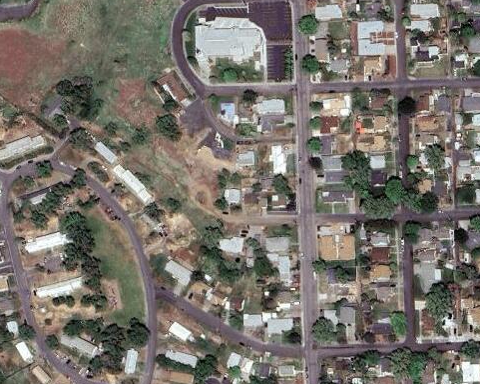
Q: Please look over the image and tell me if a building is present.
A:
Yes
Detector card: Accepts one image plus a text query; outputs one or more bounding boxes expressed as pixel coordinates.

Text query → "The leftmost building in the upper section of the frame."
[0,139,32,165]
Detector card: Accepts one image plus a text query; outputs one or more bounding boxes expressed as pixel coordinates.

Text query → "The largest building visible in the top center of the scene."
[196,17,265,64]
